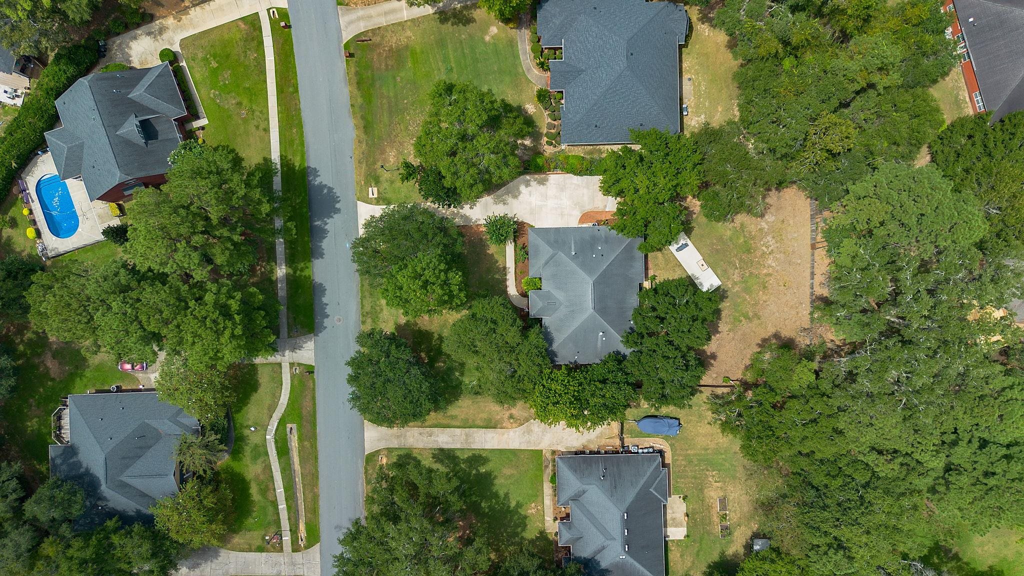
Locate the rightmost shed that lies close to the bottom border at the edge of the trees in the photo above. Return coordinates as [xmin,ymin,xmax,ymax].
[748,533,771,553]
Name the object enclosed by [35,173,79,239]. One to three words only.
swimming pool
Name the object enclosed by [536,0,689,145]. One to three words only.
house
